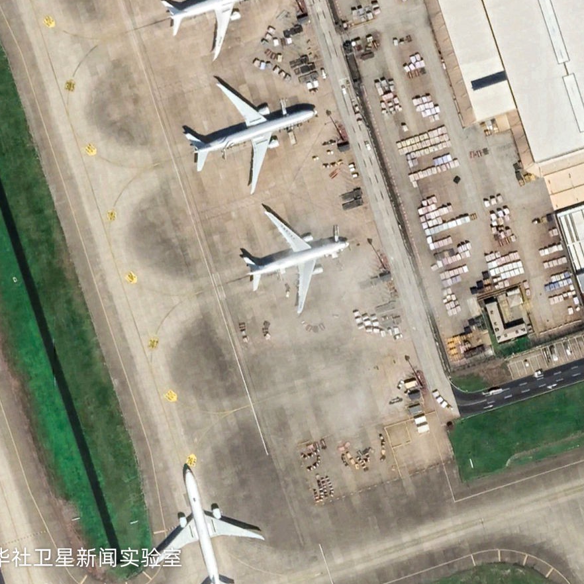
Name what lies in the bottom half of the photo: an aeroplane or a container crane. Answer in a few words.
aeroplane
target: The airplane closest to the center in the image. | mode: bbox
[243,213,349,314]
